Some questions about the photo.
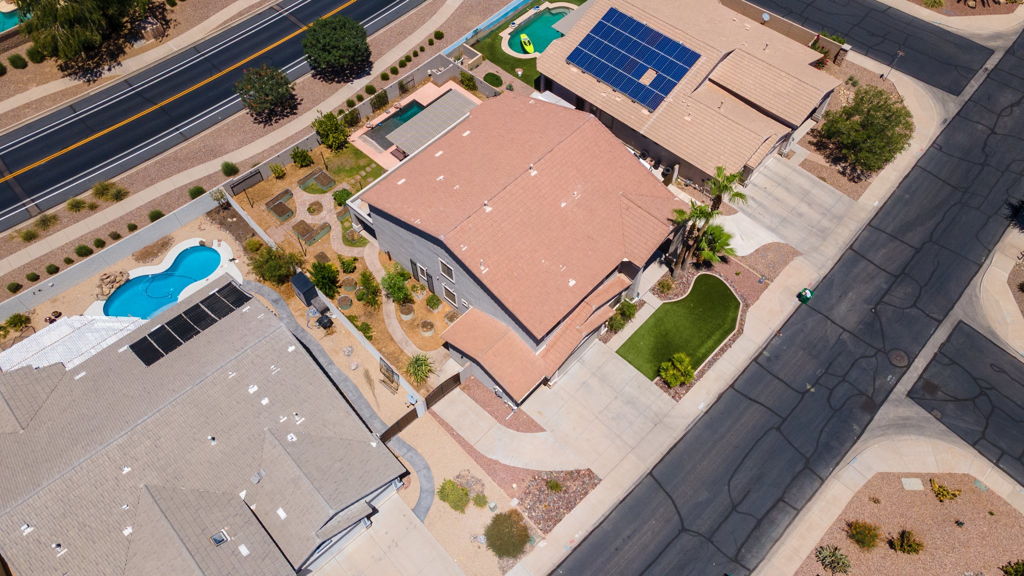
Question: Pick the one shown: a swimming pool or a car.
swimming pool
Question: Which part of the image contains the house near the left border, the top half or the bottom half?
bottom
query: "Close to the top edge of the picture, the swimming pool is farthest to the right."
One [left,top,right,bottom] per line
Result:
[508,6,568,54]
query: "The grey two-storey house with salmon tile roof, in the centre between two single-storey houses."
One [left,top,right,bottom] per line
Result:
[345,91,692,427]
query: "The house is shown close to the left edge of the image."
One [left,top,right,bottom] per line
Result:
[0,269,406,576]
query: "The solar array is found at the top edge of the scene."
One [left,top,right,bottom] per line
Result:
[564,8,699,111]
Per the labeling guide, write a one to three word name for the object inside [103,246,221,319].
swimming pool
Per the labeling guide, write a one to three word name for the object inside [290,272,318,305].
shed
